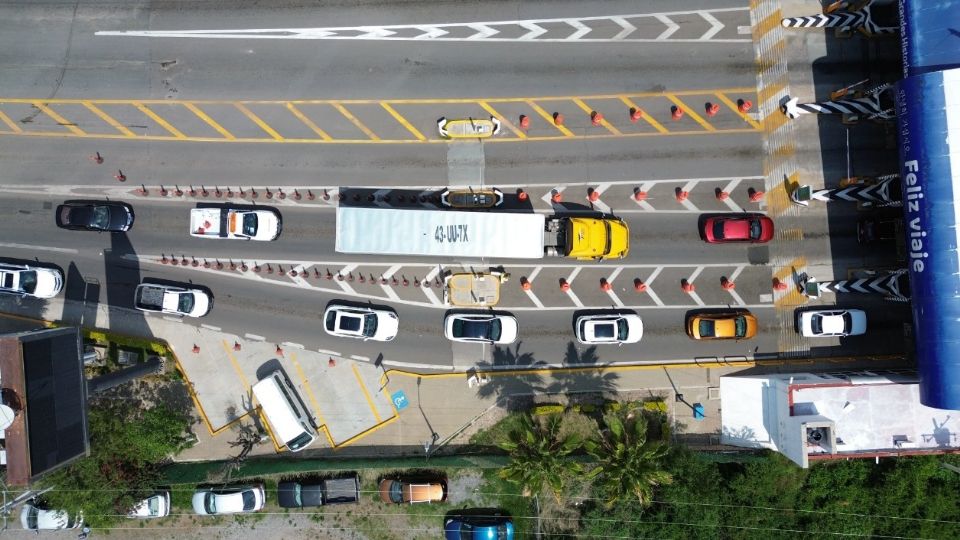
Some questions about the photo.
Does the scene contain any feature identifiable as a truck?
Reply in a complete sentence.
Yes, this view includes a truck.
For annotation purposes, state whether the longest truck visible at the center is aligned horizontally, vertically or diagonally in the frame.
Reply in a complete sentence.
In this picture, the longest truck visible at the center is oriented horizontally.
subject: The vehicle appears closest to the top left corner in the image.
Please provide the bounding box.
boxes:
[57,200,140,236]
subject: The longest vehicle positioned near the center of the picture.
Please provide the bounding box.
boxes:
[337,207,628,265]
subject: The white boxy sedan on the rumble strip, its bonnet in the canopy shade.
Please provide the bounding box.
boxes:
[795,307,863,340]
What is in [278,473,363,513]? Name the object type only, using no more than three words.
truck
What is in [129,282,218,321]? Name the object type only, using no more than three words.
truck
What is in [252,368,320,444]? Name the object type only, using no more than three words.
vehicle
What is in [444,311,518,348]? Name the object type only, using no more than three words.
car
